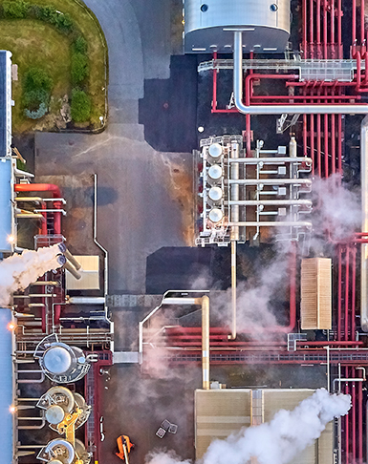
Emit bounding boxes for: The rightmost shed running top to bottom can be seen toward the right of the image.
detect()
[297,257,331,329]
